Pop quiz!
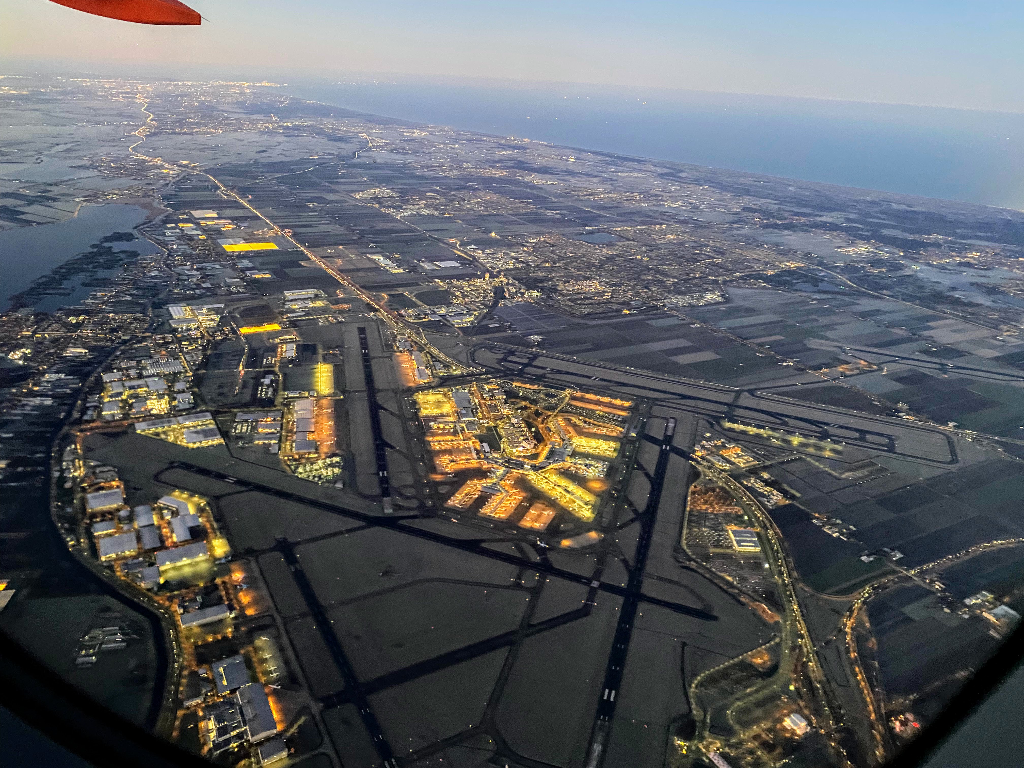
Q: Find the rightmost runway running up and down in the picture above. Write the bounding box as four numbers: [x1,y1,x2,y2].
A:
[585,419,677,768]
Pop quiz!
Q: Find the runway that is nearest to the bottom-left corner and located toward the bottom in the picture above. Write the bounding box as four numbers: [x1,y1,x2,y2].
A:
[276,536,401,768]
